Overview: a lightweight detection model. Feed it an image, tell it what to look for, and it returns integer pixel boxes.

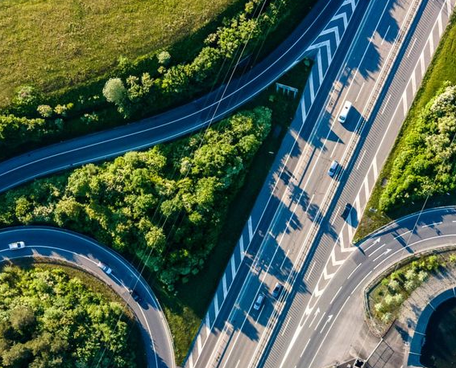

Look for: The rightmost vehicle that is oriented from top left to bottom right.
[127,287,142,303]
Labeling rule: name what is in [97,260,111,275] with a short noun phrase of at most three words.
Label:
car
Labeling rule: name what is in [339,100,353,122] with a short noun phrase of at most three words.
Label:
vehicle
